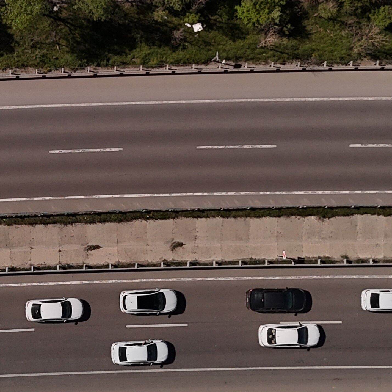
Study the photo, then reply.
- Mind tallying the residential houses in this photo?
0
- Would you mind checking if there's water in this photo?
No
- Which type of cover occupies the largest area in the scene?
paved ground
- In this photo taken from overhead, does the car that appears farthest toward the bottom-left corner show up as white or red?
white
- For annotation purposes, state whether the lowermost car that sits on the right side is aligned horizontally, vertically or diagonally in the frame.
horizontally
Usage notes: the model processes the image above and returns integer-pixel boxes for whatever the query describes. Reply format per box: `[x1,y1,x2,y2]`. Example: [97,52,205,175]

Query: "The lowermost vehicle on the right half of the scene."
[258,322,319,351]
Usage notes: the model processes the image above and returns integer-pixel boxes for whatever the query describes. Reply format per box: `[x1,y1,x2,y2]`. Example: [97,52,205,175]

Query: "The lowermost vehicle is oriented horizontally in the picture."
[110,339,168,367]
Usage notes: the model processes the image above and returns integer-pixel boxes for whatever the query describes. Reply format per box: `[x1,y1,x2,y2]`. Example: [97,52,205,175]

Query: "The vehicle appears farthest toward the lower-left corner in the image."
[25,296,83,324]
